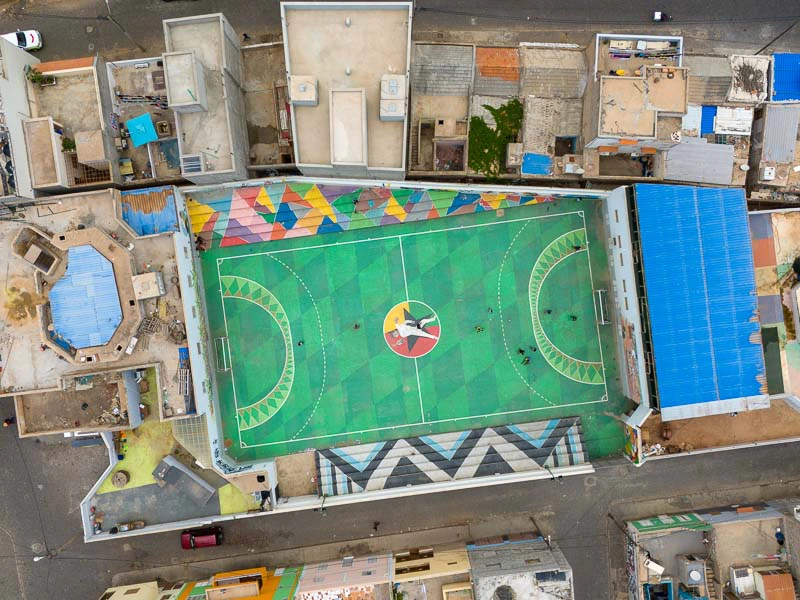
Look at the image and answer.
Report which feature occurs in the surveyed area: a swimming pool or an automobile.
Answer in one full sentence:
Of the two, only an automobile appears.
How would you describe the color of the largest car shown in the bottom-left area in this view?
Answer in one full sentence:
The largest car shown in the bottom-left area looks red in the image.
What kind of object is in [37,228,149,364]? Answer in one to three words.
building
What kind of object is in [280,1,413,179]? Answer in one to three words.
house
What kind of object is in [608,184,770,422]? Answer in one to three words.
building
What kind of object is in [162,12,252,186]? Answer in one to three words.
house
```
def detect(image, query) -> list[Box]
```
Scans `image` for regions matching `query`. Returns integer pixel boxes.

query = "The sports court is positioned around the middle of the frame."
[200,197,632,467]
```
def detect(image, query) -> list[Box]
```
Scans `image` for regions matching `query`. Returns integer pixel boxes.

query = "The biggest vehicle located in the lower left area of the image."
[178,529,221,554]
